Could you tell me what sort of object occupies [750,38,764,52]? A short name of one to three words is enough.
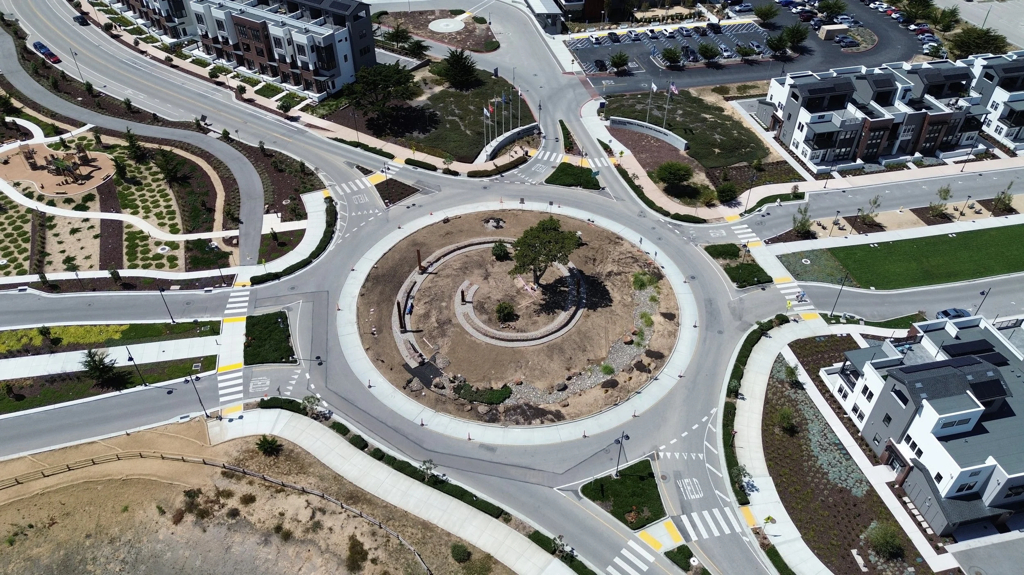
car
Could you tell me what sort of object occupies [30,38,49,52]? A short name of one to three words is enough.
car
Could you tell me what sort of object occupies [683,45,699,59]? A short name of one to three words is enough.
vehicle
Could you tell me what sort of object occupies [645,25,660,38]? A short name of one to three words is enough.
vehicle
